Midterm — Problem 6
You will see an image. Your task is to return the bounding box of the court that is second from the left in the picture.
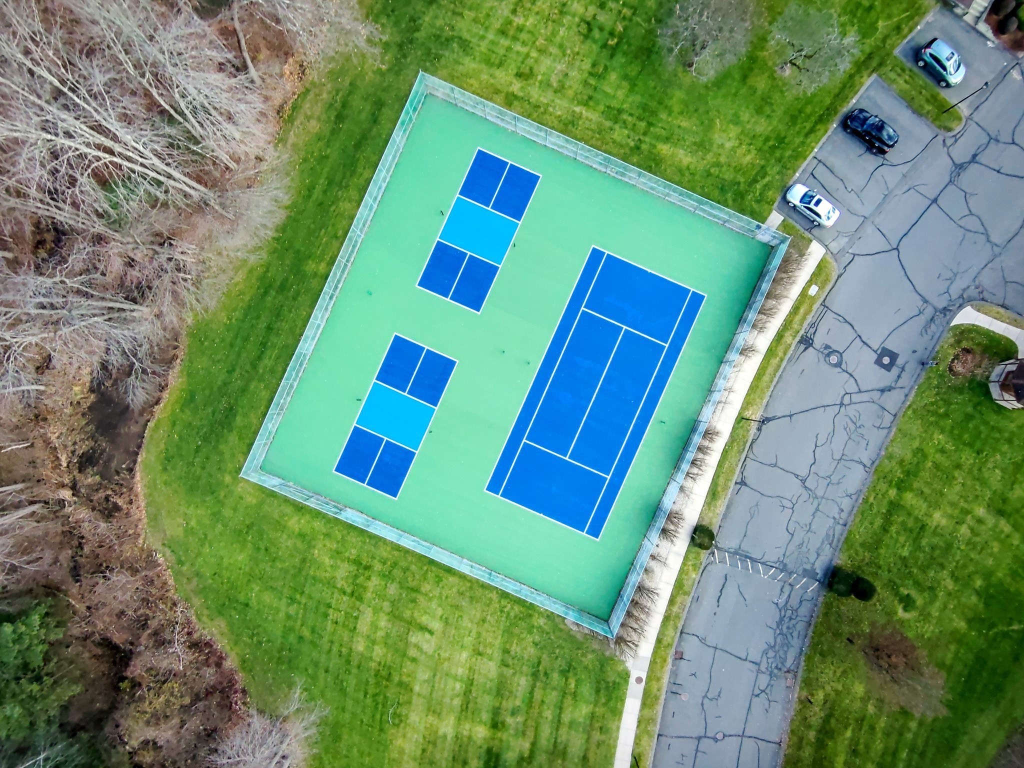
[417,147,542,314]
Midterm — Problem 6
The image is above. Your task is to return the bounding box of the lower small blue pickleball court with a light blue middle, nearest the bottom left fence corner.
[334,333,459,500]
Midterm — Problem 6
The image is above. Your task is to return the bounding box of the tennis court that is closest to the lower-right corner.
[485,246,706,540]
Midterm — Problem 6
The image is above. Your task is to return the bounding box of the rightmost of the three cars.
[921,41,965,85]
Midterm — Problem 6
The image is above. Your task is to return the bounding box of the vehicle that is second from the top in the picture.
[843,106,901,154]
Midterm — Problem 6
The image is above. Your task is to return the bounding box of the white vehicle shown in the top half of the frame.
[786,183,840,227]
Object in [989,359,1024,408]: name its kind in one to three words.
gazebo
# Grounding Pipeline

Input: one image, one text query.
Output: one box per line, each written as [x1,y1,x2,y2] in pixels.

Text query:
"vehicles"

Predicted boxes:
[786,183,840,227]
[843,106,901,154]
[921,41,965,85]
